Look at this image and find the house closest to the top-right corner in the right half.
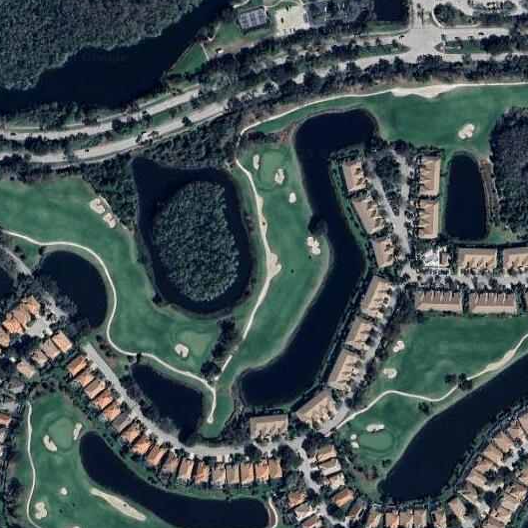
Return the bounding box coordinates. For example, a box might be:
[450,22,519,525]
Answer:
[419,157,440,195]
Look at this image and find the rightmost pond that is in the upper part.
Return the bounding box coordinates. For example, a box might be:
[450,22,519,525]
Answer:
[445,150,487,239]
